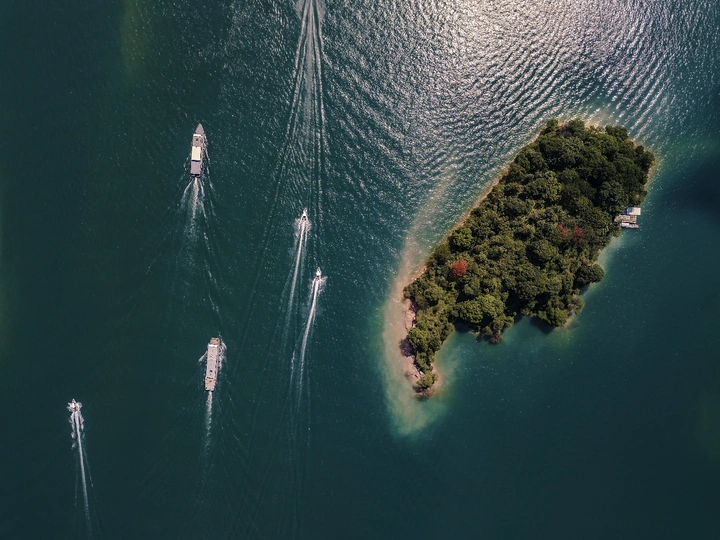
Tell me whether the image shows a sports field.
No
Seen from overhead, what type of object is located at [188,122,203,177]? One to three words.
ship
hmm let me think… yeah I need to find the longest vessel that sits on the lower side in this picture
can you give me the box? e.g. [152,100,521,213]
[204,338,219,392]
